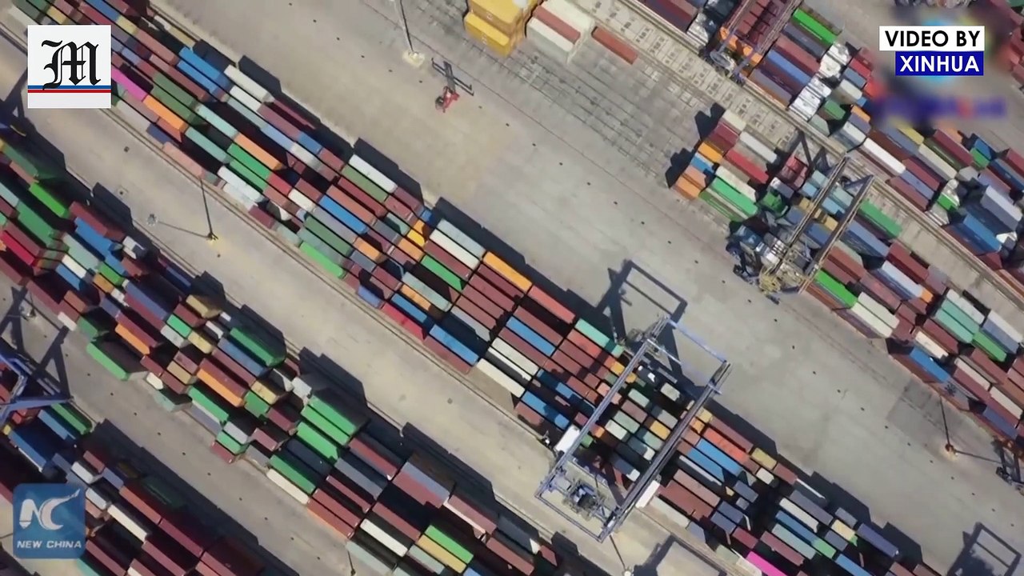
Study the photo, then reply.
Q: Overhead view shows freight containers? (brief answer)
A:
Yes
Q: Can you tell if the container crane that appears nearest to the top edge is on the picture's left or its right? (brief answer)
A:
right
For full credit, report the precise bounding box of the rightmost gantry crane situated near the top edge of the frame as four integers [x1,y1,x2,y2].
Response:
[703,0,809,86]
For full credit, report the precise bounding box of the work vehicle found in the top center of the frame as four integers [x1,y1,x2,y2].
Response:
[421,64,461,112]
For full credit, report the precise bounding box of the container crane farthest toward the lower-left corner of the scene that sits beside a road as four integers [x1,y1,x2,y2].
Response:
[0,361,92,440]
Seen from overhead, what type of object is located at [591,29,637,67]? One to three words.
shipping container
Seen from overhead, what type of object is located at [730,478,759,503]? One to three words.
shipping container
